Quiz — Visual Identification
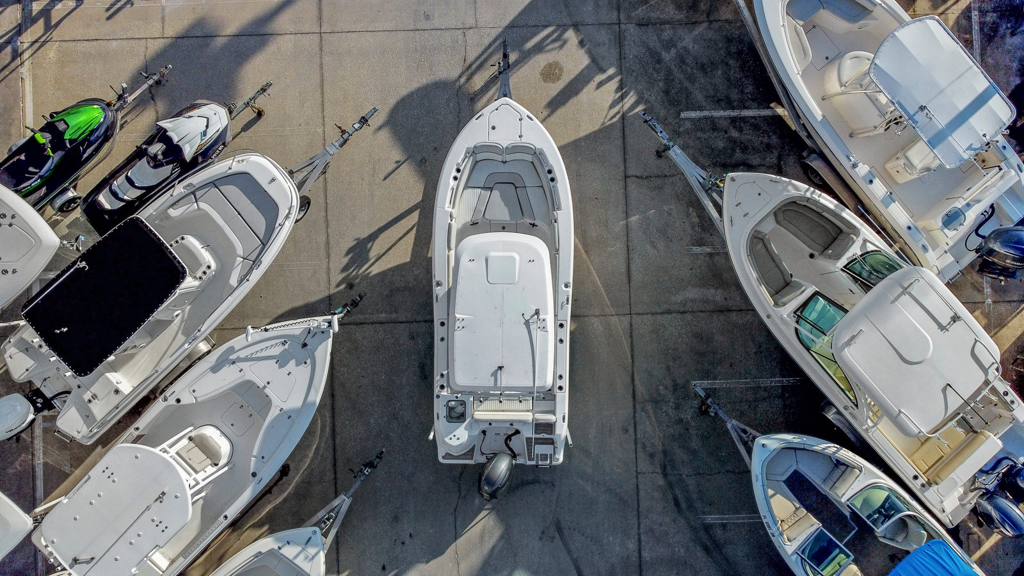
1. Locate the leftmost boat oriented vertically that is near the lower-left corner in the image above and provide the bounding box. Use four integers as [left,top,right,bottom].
[0,480,38,564]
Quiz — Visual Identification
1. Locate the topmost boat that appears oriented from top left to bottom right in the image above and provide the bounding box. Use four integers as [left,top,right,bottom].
[748,0,1024,284]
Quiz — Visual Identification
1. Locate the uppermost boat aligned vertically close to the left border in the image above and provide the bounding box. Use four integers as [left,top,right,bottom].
[0,182,64,312]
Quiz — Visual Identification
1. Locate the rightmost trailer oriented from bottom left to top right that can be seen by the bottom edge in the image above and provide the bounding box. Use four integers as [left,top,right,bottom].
[248,436,398,562]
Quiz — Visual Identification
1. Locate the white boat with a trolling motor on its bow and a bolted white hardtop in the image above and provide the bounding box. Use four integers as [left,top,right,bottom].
[27,314,338,576]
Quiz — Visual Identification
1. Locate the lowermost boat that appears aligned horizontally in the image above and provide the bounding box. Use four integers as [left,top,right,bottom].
[207,525,328,576]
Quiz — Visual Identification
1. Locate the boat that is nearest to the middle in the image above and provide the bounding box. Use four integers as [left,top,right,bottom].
[432,98,575,496]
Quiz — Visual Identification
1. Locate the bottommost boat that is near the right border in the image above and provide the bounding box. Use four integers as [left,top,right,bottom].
[749,432,987,576]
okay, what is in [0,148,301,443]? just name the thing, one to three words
boat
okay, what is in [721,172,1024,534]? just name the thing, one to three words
boat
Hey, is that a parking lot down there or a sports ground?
parking lot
